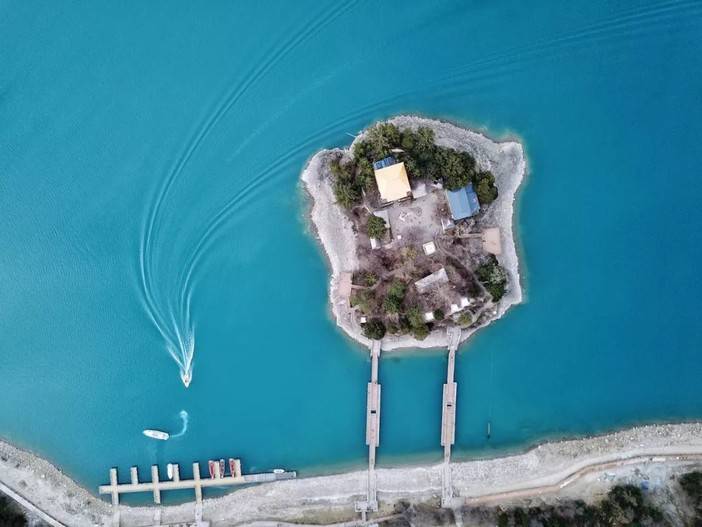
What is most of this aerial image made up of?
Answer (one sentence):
The scene is dominated by water.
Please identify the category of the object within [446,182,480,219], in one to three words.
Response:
house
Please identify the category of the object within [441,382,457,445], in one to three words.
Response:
pier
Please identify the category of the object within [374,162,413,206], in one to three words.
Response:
building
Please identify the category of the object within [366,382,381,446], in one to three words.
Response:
pier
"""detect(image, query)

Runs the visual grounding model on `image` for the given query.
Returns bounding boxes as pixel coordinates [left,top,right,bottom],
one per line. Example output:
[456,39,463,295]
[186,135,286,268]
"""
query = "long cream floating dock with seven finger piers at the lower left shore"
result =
[99,459,297,507]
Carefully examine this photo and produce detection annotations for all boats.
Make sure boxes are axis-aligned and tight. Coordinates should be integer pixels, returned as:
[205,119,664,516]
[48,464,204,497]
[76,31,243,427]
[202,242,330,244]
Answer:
[184,371,190,387]
[219,458,225,479]
[208,458,214,479]
[167,463,172,480]
[142,430,170,440]
[229,456,235,478]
